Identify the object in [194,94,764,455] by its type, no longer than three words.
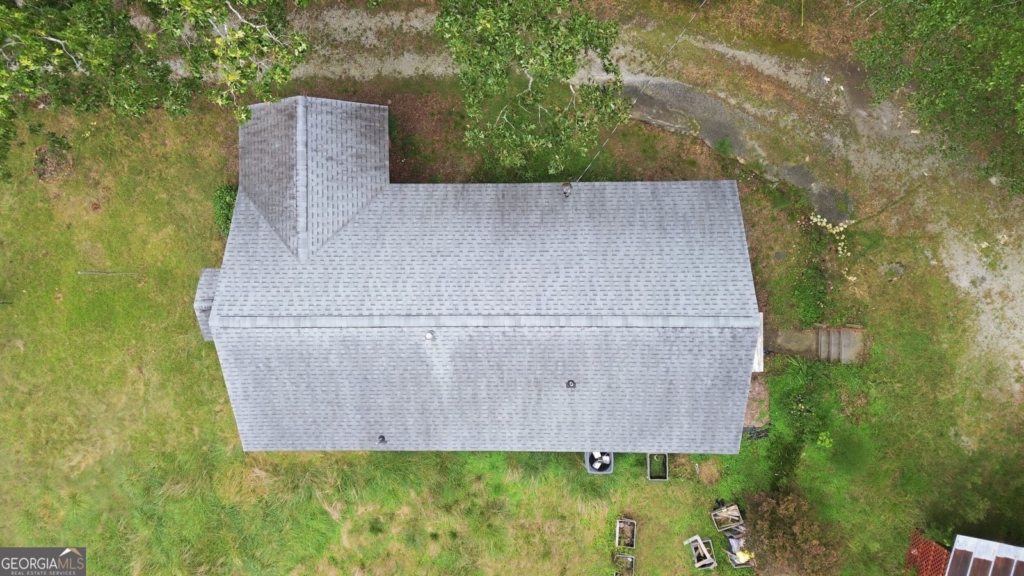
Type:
house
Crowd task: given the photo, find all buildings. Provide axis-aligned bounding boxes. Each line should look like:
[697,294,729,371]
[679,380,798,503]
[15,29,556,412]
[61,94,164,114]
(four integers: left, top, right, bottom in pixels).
[943,532,1024,576]
[194,94,764,455]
